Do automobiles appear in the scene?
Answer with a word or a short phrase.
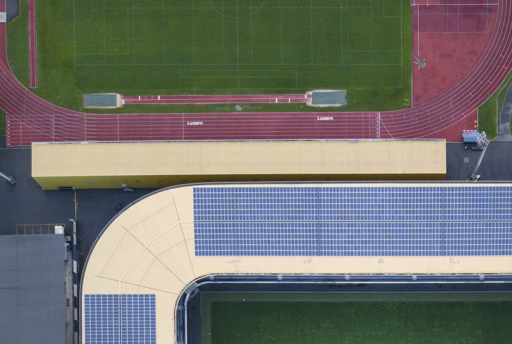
No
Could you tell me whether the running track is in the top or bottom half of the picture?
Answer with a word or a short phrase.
top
